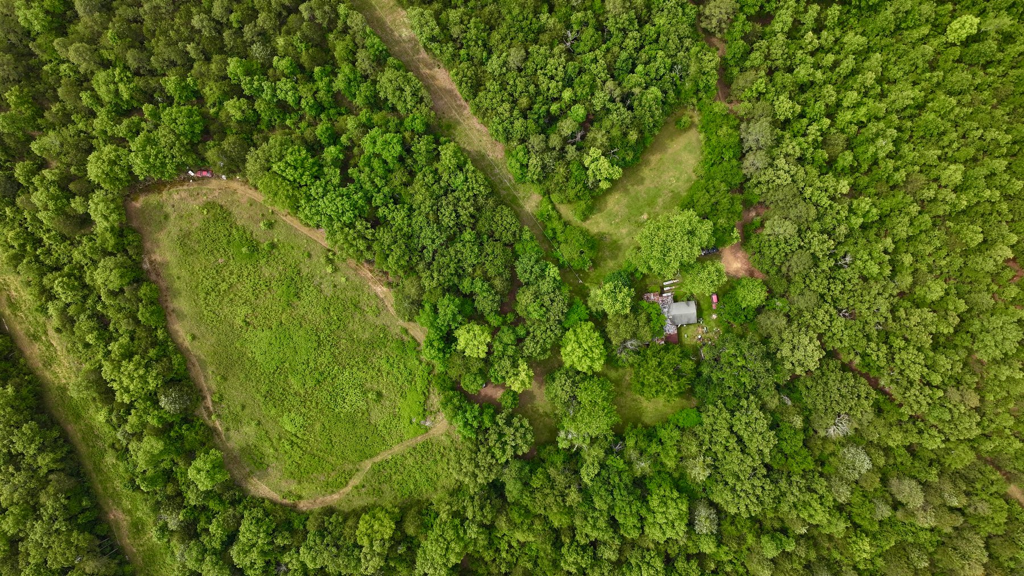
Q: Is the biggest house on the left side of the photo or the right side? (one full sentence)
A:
The biggest house appears in the right half of the scene.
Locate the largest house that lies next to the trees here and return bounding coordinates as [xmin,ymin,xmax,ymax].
[669,300,697,324]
